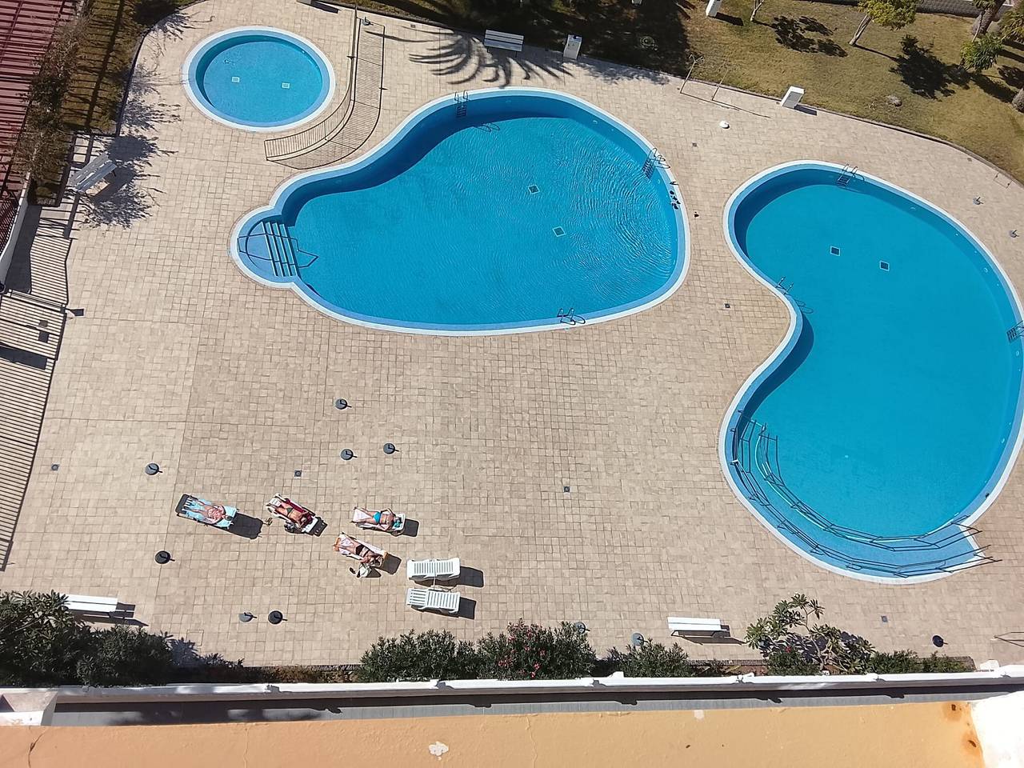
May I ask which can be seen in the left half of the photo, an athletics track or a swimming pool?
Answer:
swimming pool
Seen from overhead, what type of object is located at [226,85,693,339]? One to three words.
swimming pool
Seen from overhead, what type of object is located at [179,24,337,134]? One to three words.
swimming pool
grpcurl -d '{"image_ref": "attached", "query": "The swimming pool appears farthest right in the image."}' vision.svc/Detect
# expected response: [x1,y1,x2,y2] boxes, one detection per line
[713,157,1024,588]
